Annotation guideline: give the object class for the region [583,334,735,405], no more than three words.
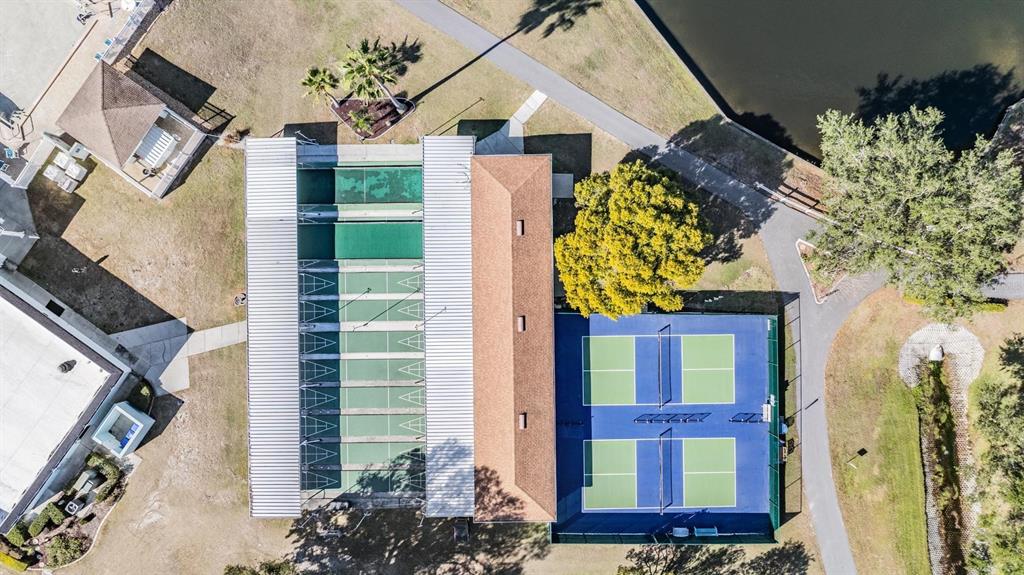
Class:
sports court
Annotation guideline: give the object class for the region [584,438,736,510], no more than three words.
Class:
sports court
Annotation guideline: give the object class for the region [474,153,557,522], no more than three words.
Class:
building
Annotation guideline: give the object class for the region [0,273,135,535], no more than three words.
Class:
building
